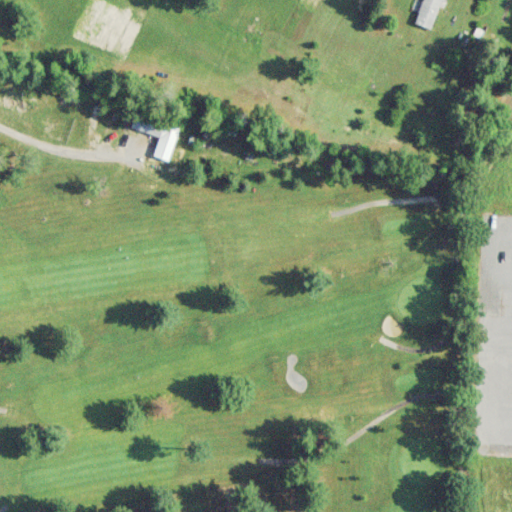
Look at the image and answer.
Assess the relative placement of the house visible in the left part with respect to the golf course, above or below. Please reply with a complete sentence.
The house visible in the left part is found above the golf course in the photo.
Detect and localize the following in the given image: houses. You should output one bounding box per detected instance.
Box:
[136,122,180,164]
[416,0,448,30]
